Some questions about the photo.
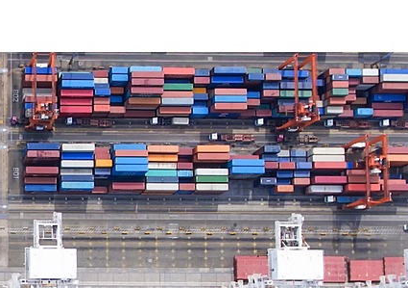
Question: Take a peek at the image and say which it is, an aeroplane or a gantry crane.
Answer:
gantry crane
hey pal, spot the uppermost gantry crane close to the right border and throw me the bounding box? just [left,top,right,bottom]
[336,136,390,208]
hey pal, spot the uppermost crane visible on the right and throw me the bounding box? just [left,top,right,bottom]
[269,54,321,134]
